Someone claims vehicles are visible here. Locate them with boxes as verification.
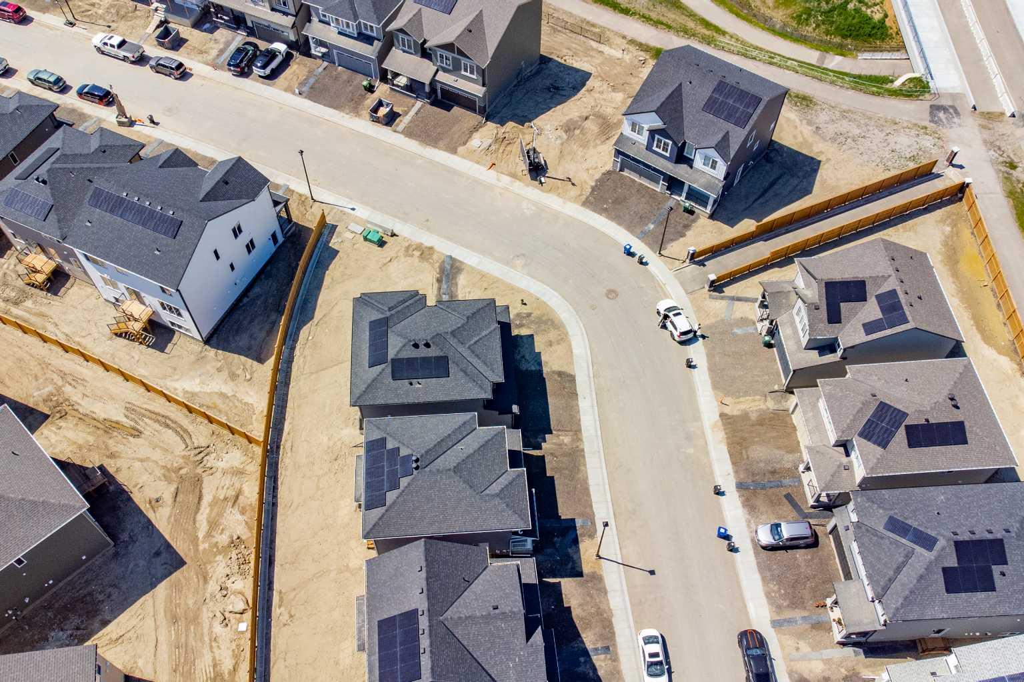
[657,300,698,346]
[147,55,190,81]
[25,71,70,96]
[252,43,291,79]
[74,84,113,110]
[754,519,818,550]
[0,0,25,22]
[92,36,145,65]
[637,629,669,682]
[739,629,777,682]
[0,55,12,74]
[226,43,260,75]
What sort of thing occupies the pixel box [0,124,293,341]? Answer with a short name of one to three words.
house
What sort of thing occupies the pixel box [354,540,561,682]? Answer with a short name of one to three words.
house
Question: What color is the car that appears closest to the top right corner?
white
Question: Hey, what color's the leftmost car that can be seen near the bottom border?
white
